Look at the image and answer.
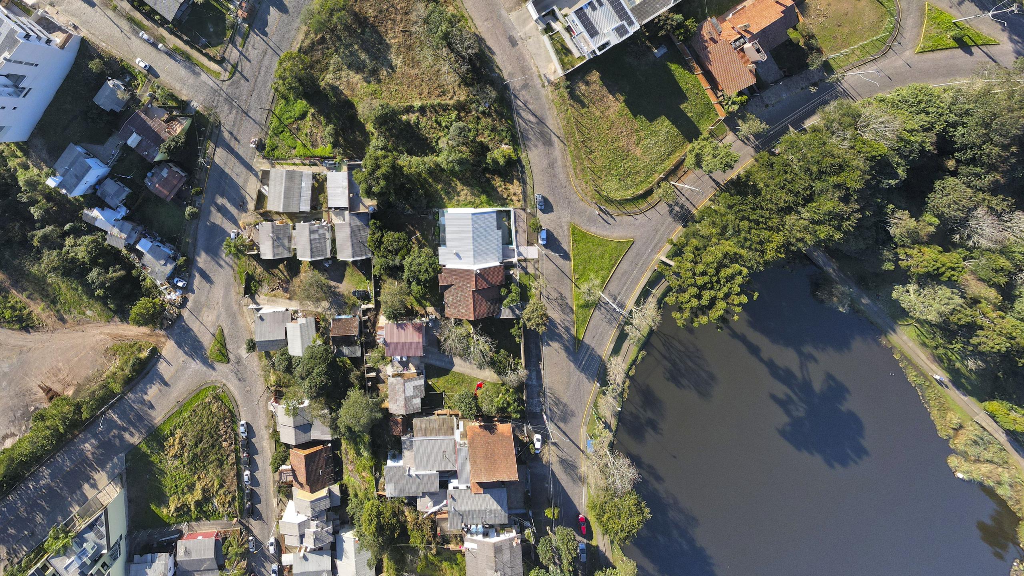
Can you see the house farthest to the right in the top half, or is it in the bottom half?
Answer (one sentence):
The house farthest to the right sits in the top half of the picture.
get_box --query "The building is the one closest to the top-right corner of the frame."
[685,0,799,97]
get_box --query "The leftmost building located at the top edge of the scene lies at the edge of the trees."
[0,0,88,142]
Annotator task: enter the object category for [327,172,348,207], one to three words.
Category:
house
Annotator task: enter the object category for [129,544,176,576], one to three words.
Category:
house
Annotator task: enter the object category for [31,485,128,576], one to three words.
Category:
building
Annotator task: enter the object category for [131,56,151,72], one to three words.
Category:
car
